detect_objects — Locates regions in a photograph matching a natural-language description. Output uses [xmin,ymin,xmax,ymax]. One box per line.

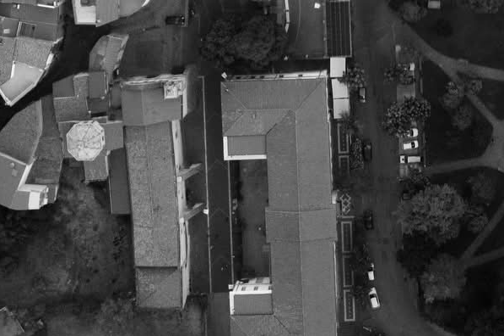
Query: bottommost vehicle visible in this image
[368,286,382,309]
